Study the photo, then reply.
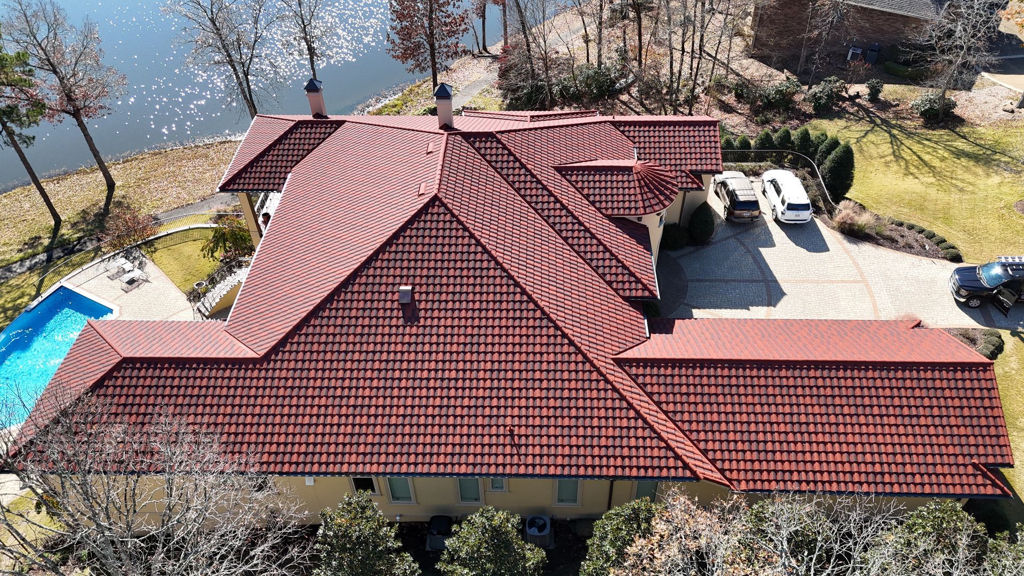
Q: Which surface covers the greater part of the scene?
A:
buildings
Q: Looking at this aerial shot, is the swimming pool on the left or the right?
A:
left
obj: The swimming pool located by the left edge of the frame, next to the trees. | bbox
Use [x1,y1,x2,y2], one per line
[0,282,120,432]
